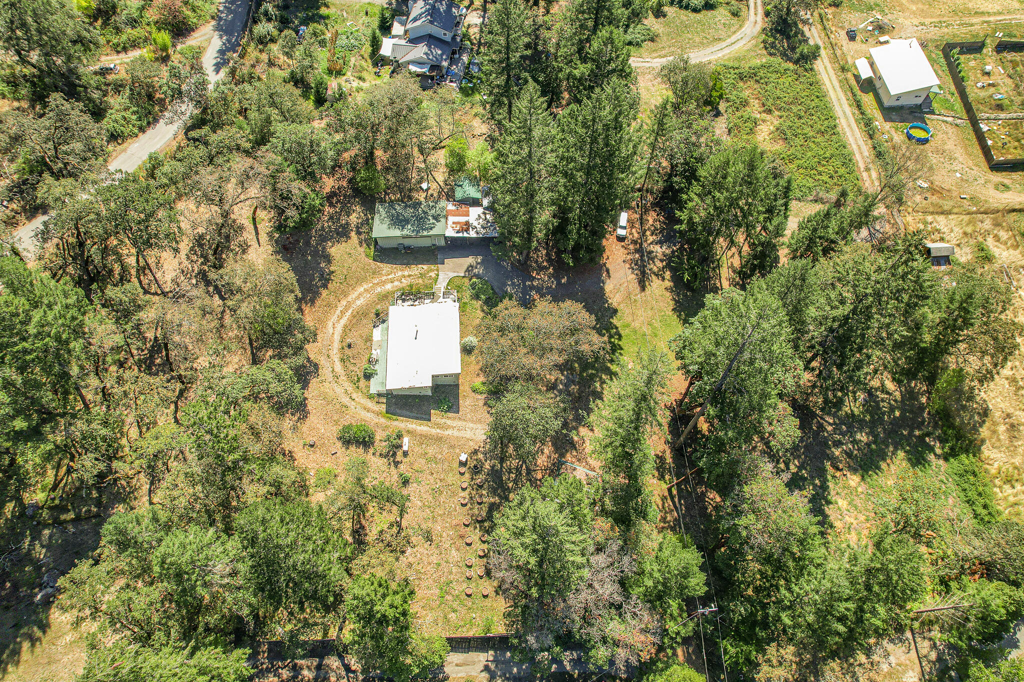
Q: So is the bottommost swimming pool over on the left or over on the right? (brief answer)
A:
right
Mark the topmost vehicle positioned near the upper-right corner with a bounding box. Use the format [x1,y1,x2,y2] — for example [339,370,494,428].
[847,26,859,39]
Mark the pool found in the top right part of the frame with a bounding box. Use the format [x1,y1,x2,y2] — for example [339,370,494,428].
[905,120,937,145]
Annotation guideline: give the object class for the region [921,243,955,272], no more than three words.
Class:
shed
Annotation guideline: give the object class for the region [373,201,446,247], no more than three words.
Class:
building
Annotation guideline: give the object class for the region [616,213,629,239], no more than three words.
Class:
vehicle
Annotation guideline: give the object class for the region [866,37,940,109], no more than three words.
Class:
house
